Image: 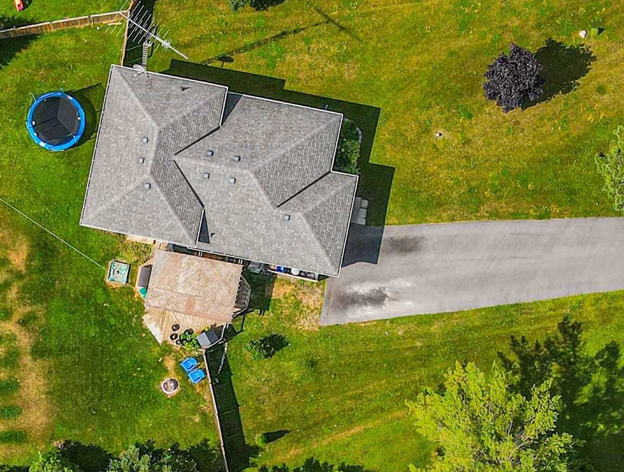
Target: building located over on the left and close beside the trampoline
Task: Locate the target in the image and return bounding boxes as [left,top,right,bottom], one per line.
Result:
[78,62,361,280]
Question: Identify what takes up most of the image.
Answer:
grass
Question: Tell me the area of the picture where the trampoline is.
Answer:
top left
